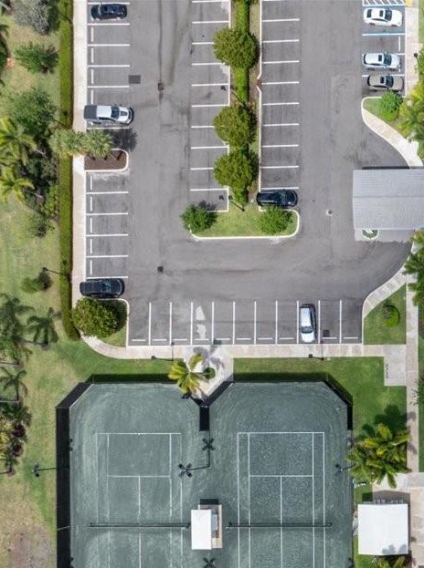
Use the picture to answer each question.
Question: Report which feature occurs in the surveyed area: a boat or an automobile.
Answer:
automobile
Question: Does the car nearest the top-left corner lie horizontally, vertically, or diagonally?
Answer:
horizontally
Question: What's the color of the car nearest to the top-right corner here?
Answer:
white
